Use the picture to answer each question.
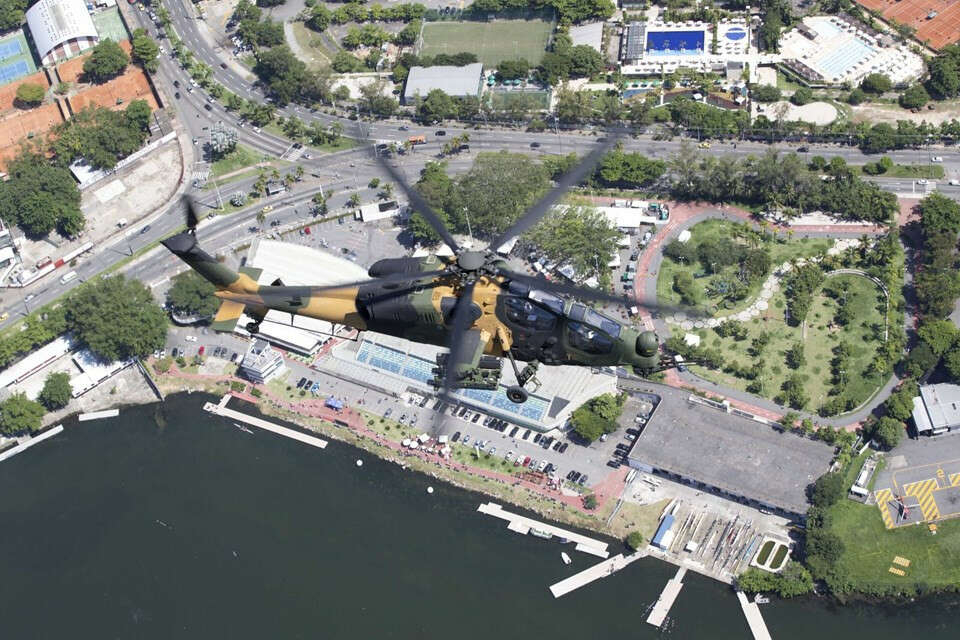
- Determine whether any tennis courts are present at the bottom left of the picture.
No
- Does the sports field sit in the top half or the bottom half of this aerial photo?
top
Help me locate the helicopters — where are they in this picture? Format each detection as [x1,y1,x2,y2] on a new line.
[161,130,714,430]
[888,490,913,512]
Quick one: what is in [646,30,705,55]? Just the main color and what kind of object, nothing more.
blue swimming pool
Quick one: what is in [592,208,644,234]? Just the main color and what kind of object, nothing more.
white tent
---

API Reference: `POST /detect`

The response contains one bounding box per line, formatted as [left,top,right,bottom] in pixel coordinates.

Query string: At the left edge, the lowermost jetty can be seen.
[0,425,65,464]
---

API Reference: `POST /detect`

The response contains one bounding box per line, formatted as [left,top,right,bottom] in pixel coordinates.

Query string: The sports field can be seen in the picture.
[418,20,552,67]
